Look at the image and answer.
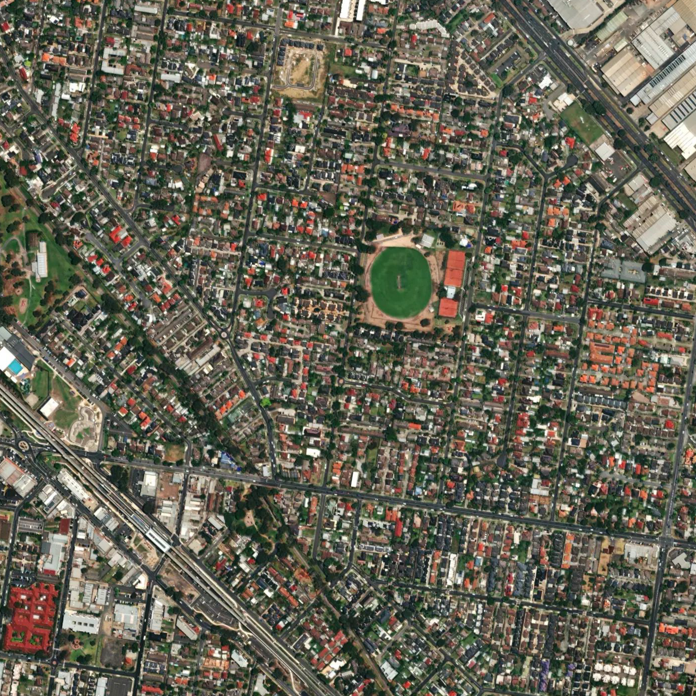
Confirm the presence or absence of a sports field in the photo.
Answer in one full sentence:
Yes, you can see a sports field in this photo.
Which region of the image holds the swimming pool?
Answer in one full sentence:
The swimming pool sits in the left section of the image.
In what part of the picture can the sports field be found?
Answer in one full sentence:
The sports field appears toward the center of the photo.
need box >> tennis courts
[448,251,466,269]
[445,269,464,286]
[438,299,458,317]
